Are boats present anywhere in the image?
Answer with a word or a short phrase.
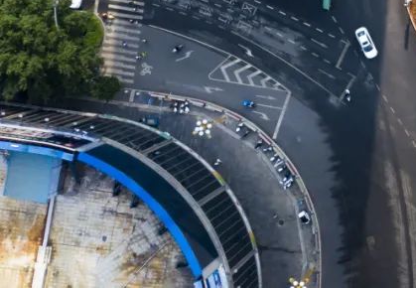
No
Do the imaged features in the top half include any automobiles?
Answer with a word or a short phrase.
Yes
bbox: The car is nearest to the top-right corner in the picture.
[354,25,378,61]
